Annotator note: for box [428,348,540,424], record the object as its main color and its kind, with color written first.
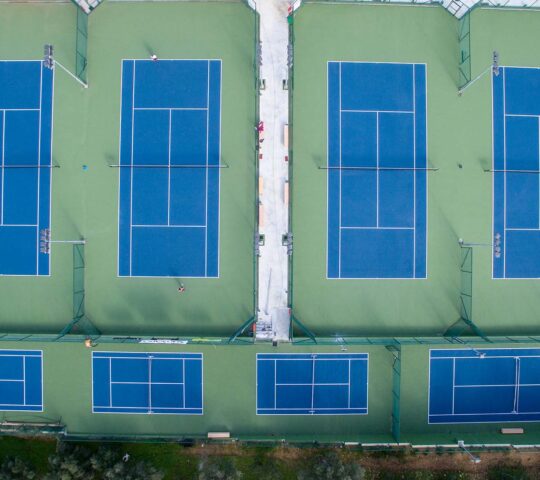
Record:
blue tennis court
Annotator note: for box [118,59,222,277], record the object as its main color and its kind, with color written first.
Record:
blue tennis court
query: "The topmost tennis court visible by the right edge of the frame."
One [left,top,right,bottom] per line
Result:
[492,66,540,279]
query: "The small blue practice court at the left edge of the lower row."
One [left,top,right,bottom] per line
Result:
[0,350,43,411]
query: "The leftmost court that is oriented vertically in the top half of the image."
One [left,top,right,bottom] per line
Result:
[0,60,54,276]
